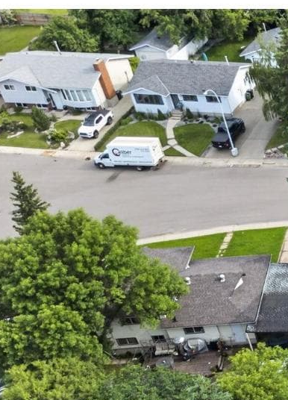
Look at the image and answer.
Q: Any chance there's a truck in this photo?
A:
Yes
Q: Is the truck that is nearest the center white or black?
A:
white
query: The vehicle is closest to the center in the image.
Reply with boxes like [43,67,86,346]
[94,133,167,169]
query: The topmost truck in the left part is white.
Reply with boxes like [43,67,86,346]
[75,108,115,135]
